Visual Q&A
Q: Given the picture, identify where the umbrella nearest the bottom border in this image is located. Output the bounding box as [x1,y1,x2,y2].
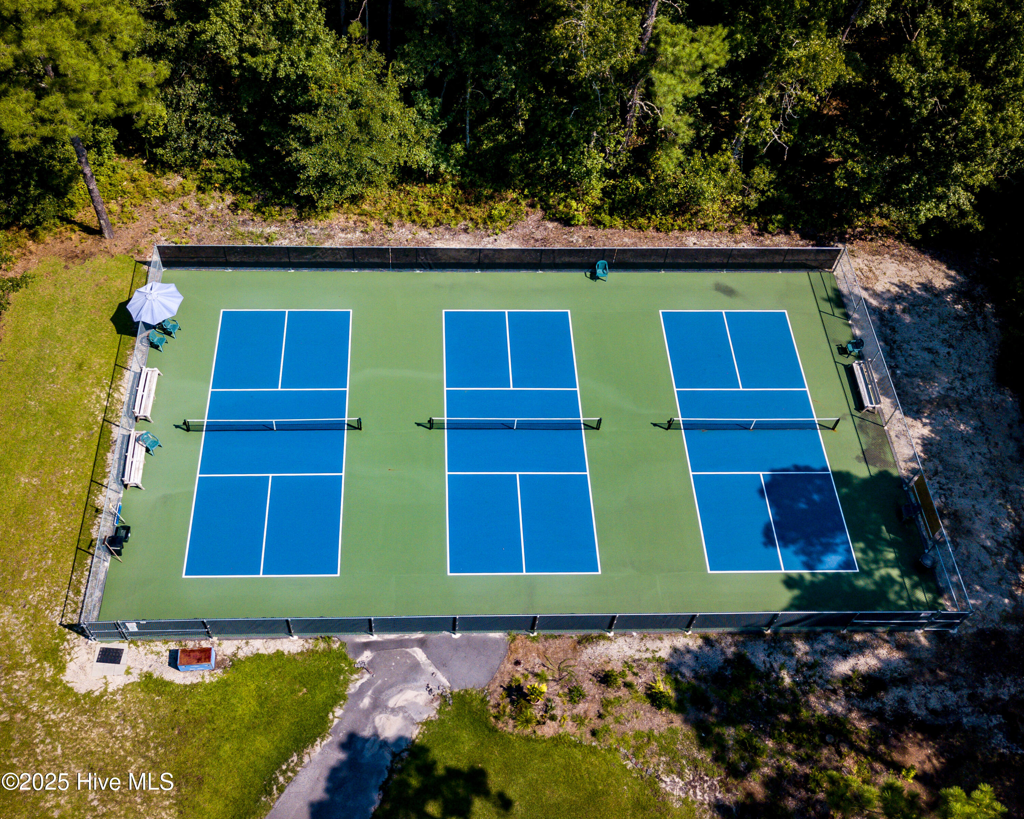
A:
[126,281,184,331]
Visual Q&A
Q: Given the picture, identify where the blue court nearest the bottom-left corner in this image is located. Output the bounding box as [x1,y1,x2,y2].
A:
[183,309,352,578]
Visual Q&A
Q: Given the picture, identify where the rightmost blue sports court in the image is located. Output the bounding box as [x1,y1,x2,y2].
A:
[660,310,859,573]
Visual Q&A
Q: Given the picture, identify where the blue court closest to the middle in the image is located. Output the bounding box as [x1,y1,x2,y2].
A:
[442,309,601,575]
